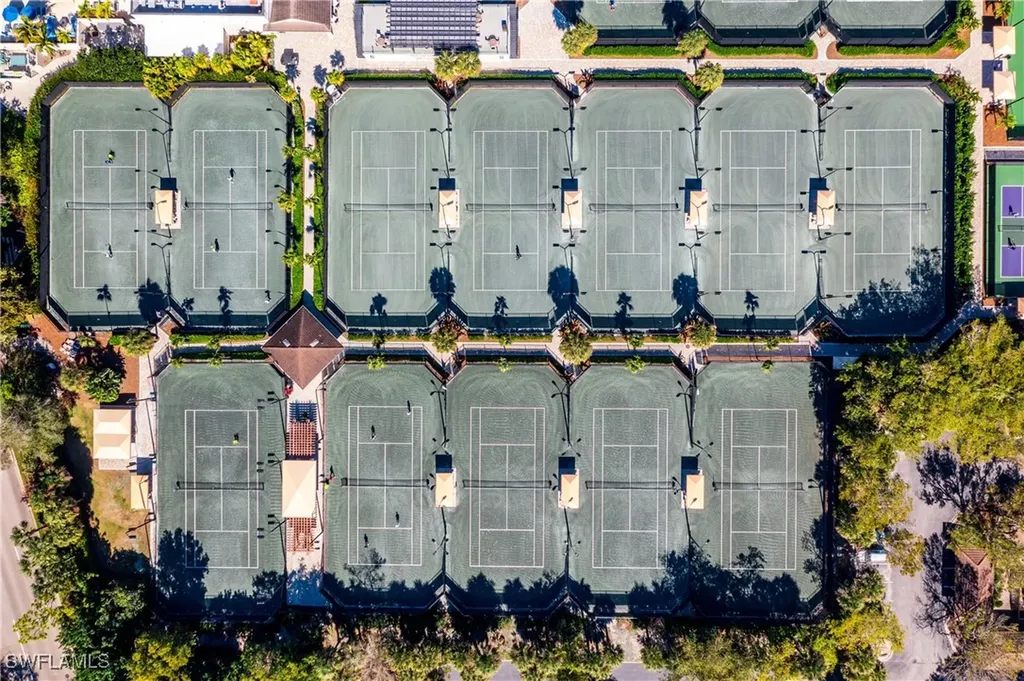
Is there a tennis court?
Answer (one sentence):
Yes, there's a tennis court here.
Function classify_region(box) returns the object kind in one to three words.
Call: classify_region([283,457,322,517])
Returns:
building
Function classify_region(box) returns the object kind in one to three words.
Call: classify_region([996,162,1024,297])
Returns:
sports court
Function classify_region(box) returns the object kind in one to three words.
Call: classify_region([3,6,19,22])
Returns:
umbrella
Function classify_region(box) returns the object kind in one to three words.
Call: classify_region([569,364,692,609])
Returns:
tennis court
